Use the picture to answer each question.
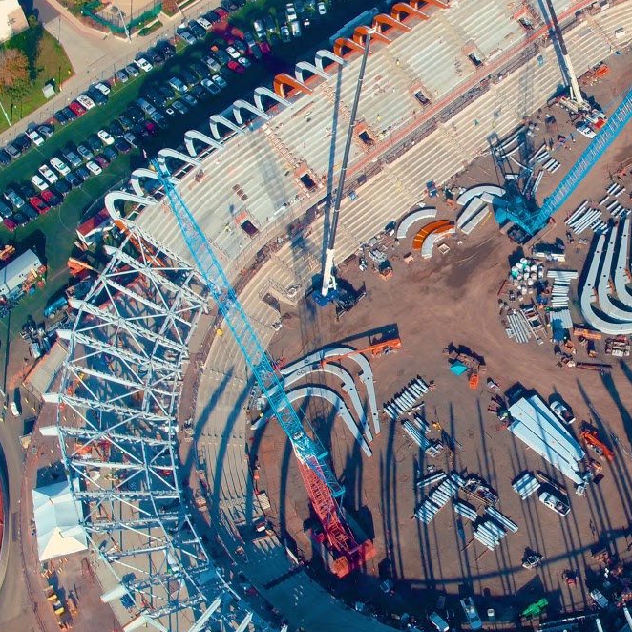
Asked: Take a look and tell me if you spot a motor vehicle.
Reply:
Yes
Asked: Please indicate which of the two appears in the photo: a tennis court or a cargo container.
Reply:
cargo container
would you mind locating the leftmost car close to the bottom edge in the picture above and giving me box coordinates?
[426,608,452,632]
